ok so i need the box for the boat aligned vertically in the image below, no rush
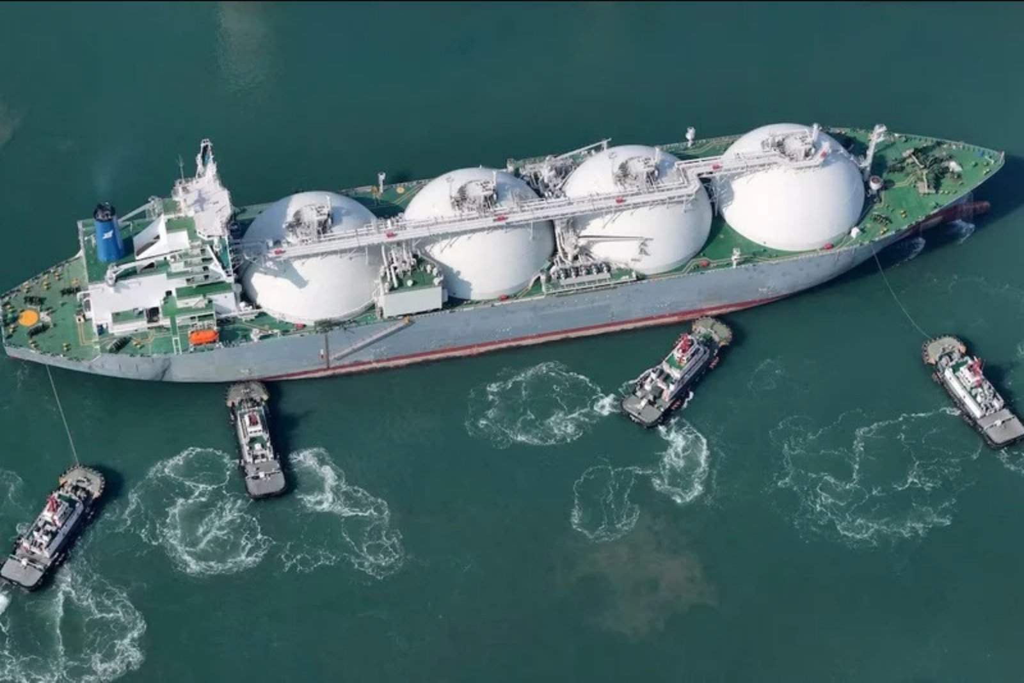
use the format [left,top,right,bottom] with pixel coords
[221,379,288,504]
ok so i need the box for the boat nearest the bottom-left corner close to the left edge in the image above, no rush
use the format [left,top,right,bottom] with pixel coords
[0,466,107,591]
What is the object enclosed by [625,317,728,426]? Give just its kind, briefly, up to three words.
boat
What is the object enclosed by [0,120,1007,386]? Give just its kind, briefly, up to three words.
ship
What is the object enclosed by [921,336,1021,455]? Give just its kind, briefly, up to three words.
boat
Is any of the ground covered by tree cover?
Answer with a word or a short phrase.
No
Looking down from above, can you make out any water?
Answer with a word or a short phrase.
Yes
